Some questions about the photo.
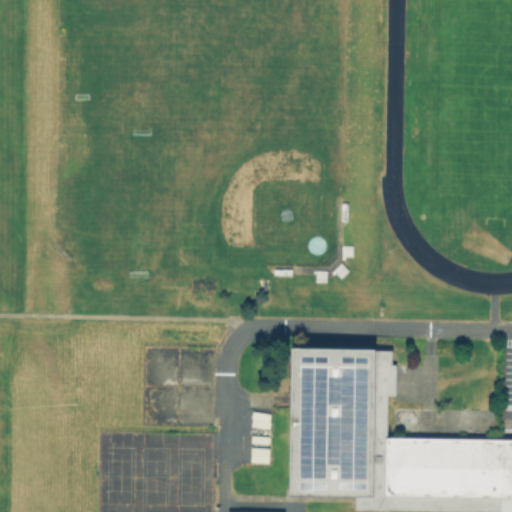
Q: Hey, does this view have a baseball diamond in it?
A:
Yes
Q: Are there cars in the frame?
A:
No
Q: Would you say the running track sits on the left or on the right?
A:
right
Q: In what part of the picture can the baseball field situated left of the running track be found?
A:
center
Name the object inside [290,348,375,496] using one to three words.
building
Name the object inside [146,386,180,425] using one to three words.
sports court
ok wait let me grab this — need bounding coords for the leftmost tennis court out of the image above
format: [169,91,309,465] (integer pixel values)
[101,433,140,512]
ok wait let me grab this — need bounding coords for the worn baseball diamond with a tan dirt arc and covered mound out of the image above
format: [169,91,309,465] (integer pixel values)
[222,150,330,262]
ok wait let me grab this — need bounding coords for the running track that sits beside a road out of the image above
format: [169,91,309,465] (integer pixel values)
[383,0,512,294]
